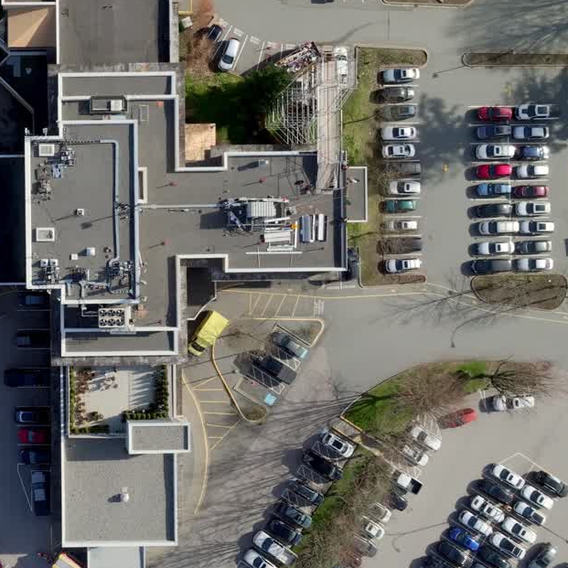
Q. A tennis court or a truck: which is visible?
truck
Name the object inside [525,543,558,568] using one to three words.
car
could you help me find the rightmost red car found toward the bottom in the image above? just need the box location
[438,407,477,431]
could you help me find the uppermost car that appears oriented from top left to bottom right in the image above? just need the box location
[273,330,310,359]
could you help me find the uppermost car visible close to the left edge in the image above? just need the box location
[17,291,51,309]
